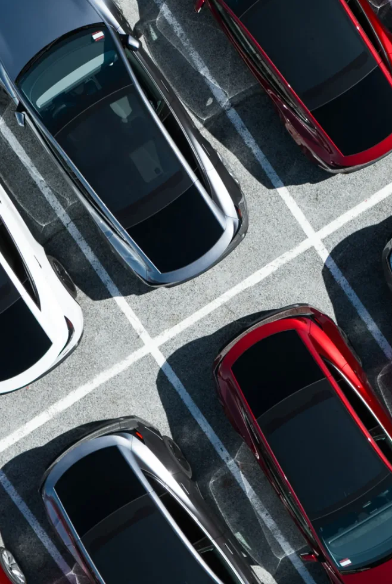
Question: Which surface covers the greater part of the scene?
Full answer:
What you mostly see from above here is paved ground.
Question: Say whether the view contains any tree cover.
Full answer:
No, there is no tree cover in the image.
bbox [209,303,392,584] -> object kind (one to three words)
car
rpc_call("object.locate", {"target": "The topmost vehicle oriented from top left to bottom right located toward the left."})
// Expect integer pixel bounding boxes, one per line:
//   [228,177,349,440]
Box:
[0,0,252,290]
